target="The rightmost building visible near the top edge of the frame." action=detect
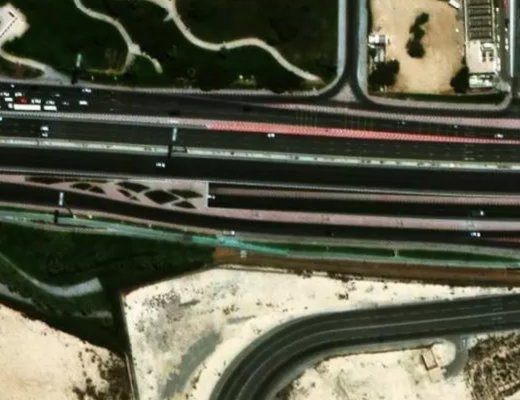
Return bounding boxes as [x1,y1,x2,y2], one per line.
[464,0,498,91]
